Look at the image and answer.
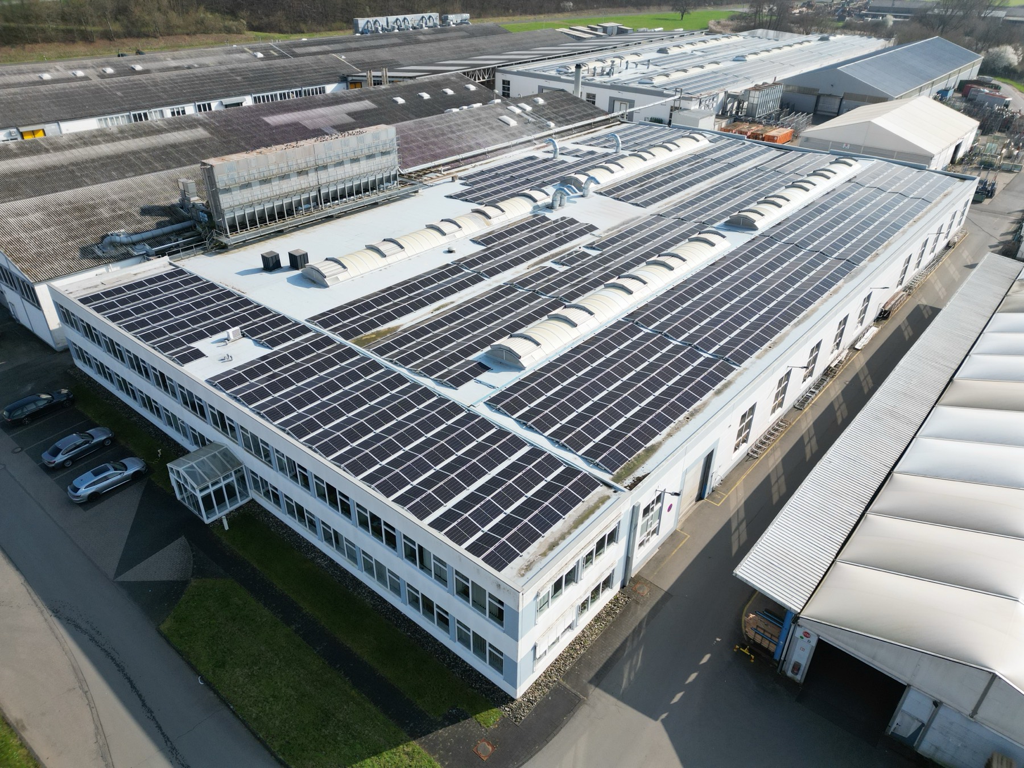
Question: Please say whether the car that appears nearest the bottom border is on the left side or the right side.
left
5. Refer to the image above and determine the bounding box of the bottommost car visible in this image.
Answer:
[65,462,149,505]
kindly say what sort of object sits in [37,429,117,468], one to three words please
car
